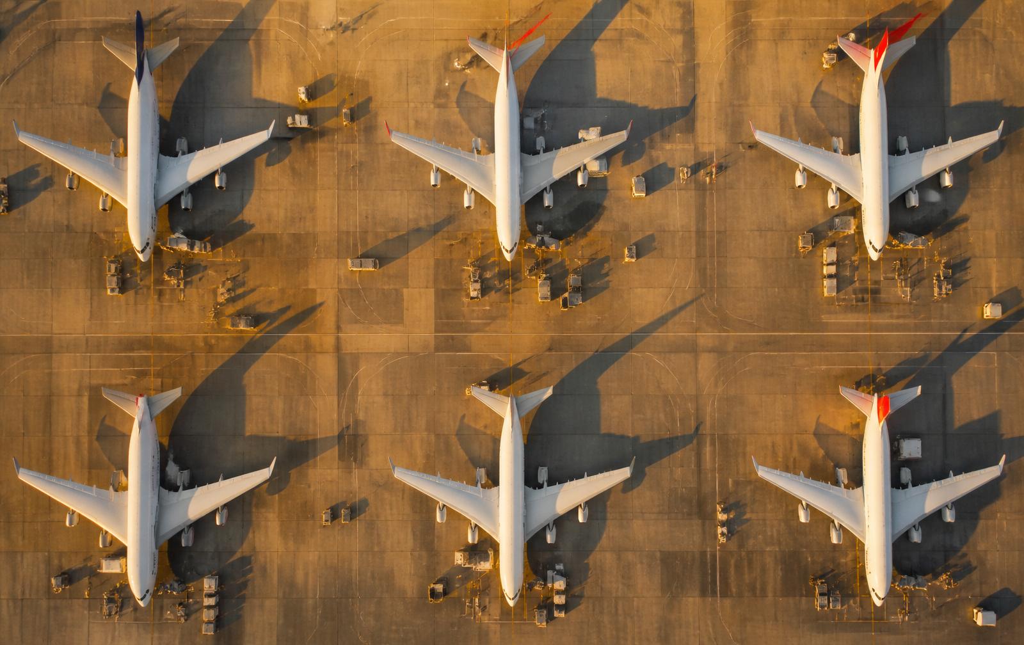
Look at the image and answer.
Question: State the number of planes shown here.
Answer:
6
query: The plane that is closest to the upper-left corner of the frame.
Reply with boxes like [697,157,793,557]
[12,11,275,261]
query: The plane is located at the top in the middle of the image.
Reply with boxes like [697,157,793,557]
[383,24,631,261]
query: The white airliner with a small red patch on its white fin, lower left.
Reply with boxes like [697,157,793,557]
[9,387,273,606]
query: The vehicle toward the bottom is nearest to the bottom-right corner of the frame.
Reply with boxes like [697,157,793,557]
[970,607,997,626]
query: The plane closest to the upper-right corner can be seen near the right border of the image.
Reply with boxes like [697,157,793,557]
[749,25,1004,260]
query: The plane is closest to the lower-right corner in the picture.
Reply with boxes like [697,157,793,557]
[751,387,1006,606]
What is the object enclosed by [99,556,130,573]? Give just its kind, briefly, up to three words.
vehicle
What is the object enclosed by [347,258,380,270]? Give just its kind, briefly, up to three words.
vehicle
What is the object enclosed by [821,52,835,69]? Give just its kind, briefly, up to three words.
work vehicle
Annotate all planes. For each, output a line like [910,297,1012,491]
[388,388,635,606]
[749,25,1004,260]
[383,24,631,261]
[751,387,1006,606]
[12,11,275,261]
[9,387,273,606]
